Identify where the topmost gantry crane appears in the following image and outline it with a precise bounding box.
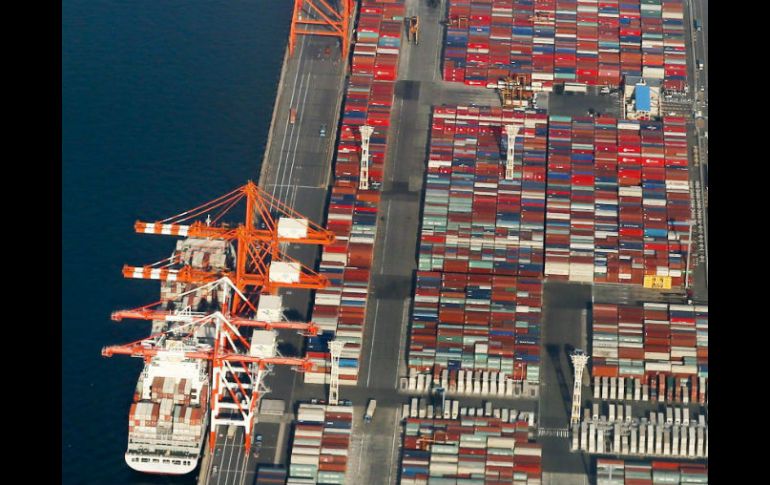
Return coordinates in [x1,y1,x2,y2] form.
[288,0,357,60]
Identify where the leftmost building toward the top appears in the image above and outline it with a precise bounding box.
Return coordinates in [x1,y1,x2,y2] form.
[623,74,662,120]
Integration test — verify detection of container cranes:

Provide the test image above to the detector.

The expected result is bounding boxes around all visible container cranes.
[120,223,330,373]
[109,273,319,421]
[288,0,357,60]
[132,177,336,320]
[100,310,308,456]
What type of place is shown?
port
